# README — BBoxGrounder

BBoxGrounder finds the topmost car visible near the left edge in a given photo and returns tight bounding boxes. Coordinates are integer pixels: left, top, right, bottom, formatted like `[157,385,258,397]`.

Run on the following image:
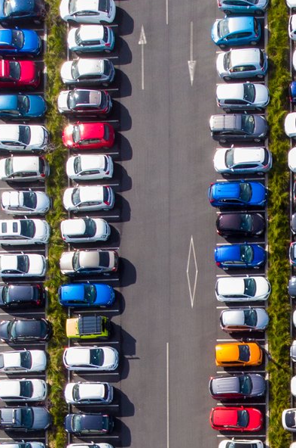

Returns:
[0,0,46,30]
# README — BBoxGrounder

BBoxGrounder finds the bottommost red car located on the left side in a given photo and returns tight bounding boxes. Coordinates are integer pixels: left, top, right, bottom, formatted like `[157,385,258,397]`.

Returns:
[64,123,116,152]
